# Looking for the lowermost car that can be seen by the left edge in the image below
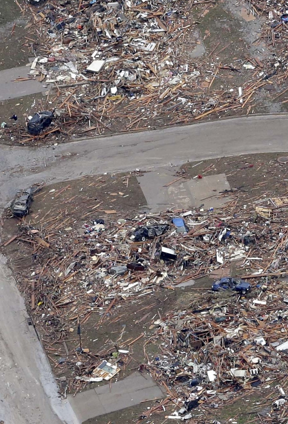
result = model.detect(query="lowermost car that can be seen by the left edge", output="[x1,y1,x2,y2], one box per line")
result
[9,187,37,217]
